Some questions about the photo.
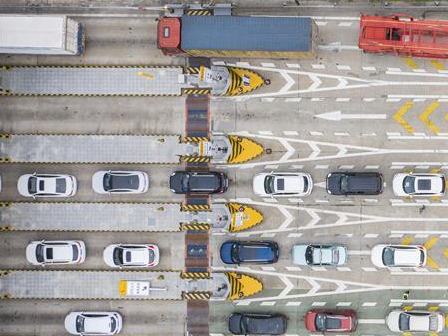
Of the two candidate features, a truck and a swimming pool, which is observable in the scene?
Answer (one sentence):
The one in the frame is a truck.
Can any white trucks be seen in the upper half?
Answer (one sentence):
Yes, there is a white truck in the upper half.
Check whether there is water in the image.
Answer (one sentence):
No, the picture contains no water.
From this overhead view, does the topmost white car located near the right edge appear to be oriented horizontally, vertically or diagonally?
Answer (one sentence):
The topmost white car located near the right edge runs horizontally in the image.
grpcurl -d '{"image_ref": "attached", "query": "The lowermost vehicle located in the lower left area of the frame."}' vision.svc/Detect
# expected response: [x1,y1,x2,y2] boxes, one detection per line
[66,310,122,336]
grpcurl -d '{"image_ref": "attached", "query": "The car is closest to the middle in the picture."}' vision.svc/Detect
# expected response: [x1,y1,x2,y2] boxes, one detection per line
[170,168,227,196]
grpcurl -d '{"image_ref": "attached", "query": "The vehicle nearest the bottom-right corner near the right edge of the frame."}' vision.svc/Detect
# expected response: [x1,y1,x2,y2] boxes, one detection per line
[387,308,445,335]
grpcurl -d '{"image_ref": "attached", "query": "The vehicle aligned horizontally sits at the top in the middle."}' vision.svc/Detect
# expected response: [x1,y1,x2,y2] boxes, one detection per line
[159,17,319,60]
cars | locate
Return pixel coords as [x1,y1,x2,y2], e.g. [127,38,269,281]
[66,310,122,336]
[105,241,159,268]
[254,170,312,198]
[393,170,445,197]
[293,242,347,268]
[27,239,87,267]
[170,168,227,196]
[20,172,77,199]
[372,241,427,269]
[229,311,286,336]
[306,308,358,335]
[327,169,383,197]
[94,168,148,195]
[220,238,278,267]
[387,308,445,335]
